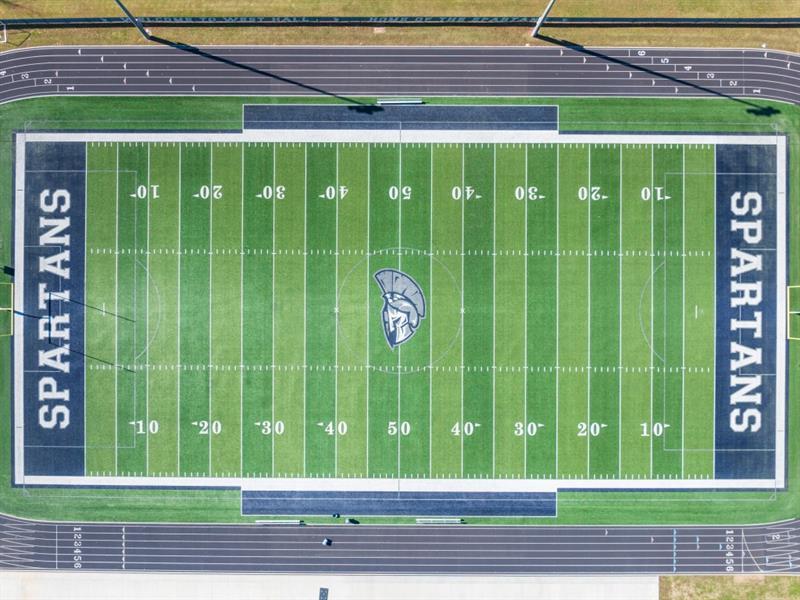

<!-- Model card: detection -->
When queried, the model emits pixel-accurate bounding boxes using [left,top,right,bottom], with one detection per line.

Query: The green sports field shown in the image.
[11,103,790,517]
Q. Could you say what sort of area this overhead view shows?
sports ground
